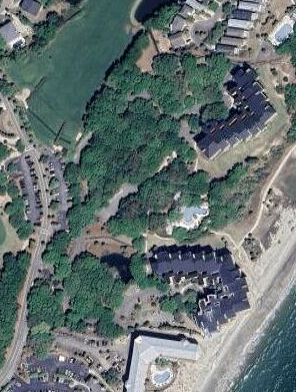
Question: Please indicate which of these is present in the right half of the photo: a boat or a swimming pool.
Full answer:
Looking in the right half of the photo, you will find a swimming pool.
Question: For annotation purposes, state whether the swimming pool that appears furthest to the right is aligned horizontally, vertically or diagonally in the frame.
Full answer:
What the image shows is the swimming pool that appears furthest to the right lying diagonally.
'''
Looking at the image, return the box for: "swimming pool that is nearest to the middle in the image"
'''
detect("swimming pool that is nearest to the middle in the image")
[167,203,210,235]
